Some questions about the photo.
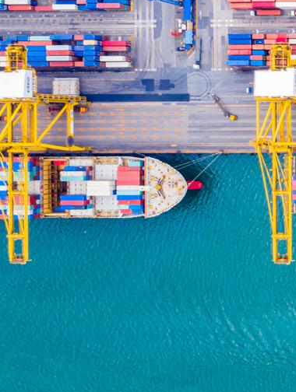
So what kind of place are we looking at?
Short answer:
port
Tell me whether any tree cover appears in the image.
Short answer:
No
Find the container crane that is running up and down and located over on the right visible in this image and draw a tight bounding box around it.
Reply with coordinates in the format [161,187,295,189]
[246,41,296,264]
